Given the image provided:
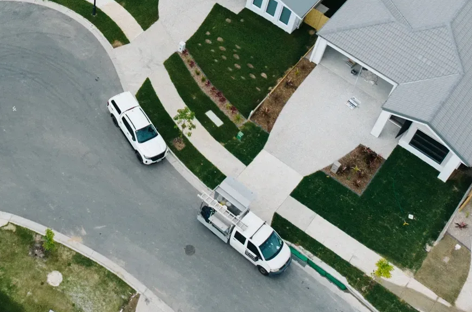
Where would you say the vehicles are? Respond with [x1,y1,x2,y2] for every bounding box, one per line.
[196,183,295,284]
[110,92,165,164]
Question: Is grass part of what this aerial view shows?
Yes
